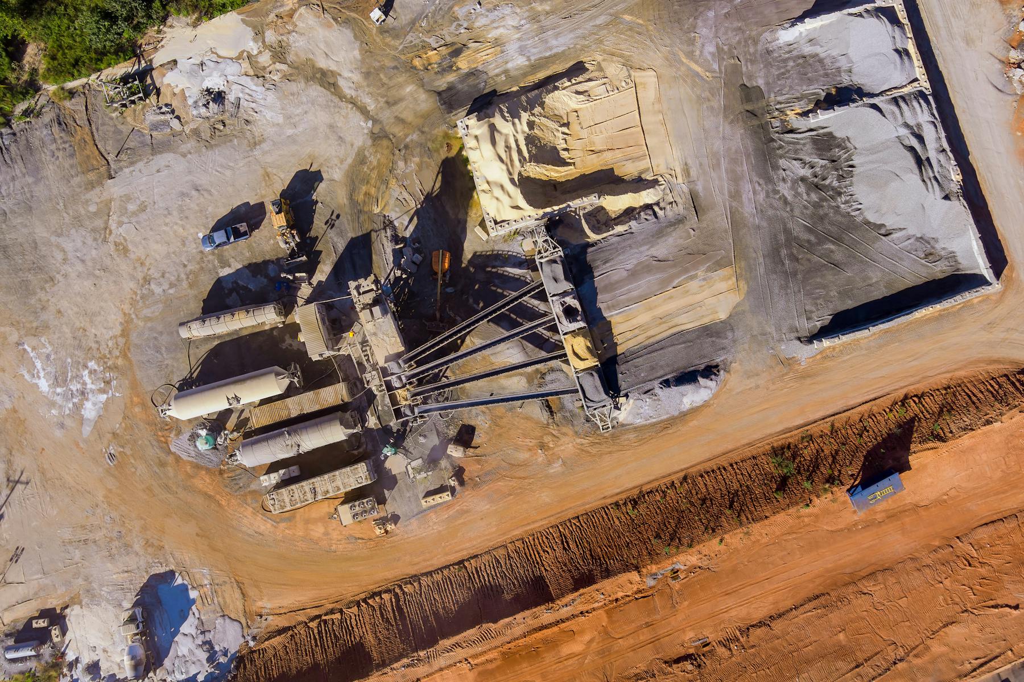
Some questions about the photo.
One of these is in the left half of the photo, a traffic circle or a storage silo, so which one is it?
storage silo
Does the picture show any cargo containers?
Yes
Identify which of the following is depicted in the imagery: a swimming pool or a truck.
truck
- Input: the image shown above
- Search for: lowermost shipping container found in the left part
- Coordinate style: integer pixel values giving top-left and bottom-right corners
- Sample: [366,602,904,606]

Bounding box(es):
[249,380,353,429]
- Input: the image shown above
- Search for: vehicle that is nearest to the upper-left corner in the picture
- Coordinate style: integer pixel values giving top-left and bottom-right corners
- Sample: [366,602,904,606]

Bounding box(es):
[200,225,255,255]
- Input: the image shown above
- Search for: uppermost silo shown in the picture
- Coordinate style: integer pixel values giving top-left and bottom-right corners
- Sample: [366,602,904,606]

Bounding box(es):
[159,362,307,420]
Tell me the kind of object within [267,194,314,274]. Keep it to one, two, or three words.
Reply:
work vehicle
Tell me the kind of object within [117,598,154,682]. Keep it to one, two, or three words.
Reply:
truck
